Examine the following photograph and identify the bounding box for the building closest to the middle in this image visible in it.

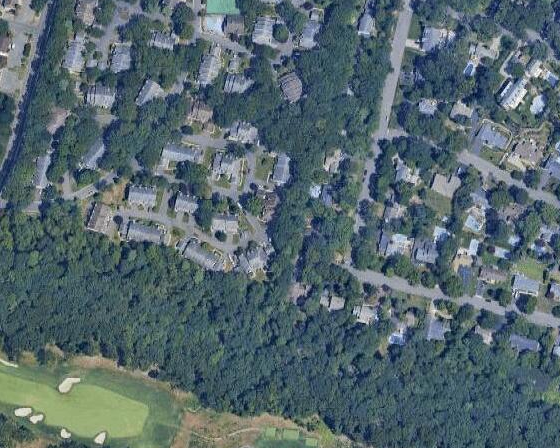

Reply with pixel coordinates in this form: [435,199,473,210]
[257,186,280,221]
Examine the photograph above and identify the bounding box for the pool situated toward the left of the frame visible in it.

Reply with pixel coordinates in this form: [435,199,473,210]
[205,15,226,33]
